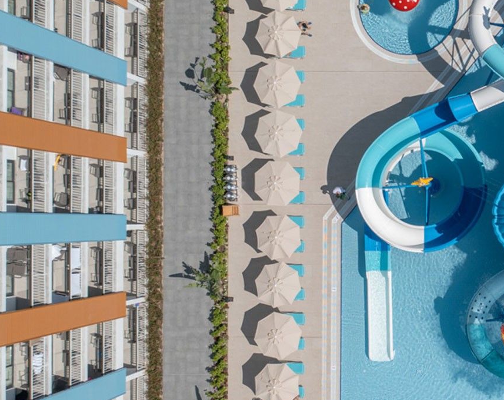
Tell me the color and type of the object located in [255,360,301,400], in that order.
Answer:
white umbrella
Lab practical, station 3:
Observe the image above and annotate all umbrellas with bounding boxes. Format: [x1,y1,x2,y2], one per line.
[255,61,302,107]
[257,213,304,260]
[255,158,303,206]
[255,360,301,400]
[256,312,301,357]
[258,110,303,155]
[256,10,303,57]
[256,261,302,307]
[261,0,300,11]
